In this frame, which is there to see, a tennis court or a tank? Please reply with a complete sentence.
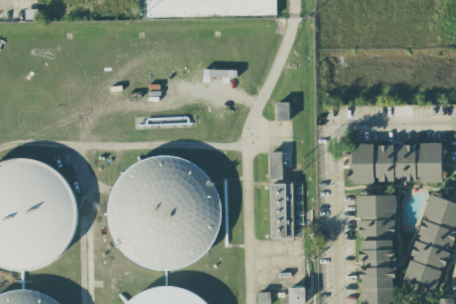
Looking from above, you can make out a tank.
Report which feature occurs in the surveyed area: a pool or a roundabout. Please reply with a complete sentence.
I can see a pool in this picture.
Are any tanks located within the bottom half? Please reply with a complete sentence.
Yes, a tank appears within the bottom half.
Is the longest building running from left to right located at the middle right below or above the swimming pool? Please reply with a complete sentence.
From this view, the longest building running from left to right located at the middle right can be seen above the swimming pool.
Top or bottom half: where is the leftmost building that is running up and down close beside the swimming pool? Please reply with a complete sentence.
The bottom half of the photo is where the leftmost building that is running up and down close beside the swimming pool is.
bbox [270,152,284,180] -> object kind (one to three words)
shed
